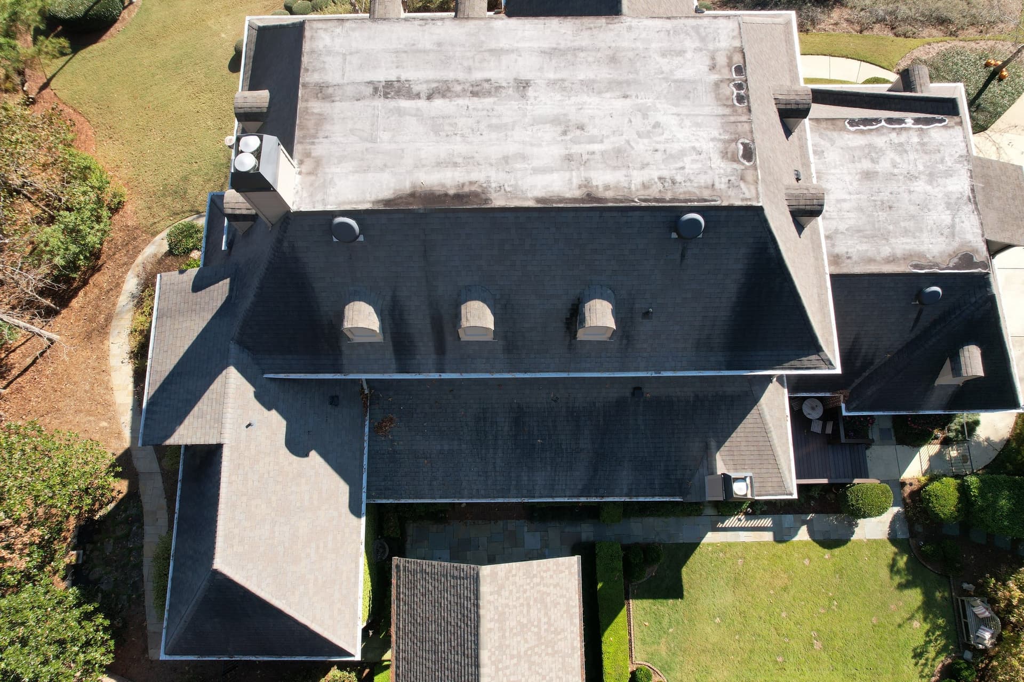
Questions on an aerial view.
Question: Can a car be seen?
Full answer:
No, no car is visible in the scene.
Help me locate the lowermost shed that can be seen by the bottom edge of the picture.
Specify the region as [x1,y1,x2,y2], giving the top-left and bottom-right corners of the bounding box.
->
[385,555,588,682]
